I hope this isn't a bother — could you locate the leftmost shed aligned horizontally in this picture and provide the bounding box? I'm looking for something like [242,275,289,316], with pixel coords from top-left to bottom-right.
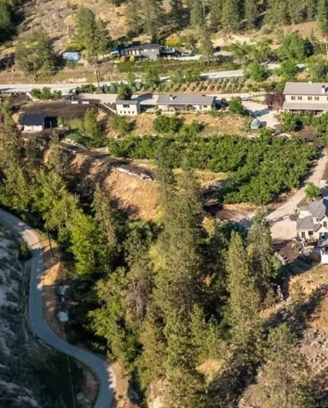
[21,116,59,131]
